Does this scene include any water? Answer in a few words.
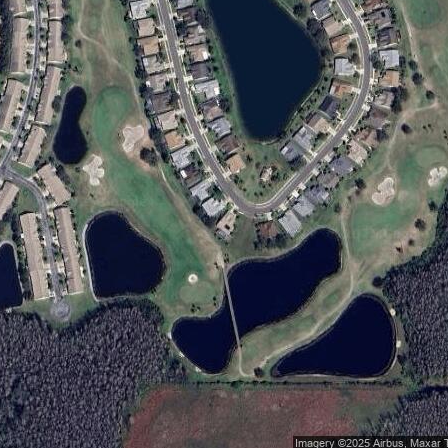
Yes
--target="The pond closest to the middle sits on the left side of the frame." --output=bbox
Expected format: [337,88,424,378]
[85,211,164,299]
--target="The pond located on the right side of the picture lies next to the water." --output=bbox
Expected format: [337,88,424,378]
[274,295,394,376]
